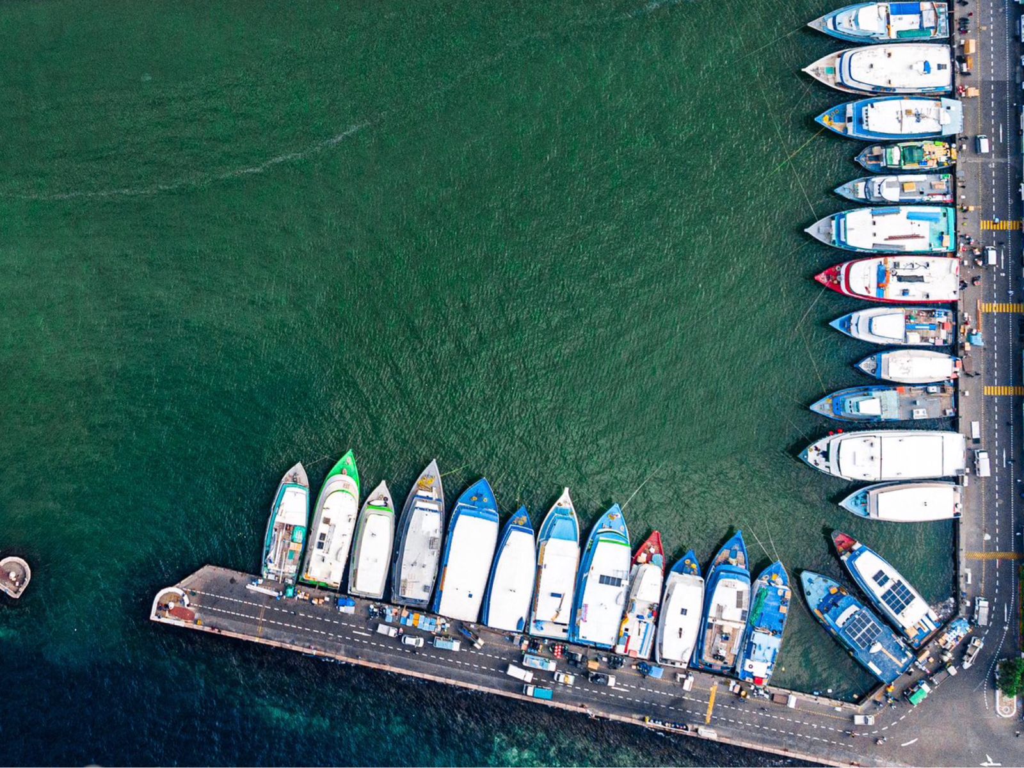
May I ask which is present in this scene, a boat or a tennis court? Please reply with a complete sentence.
I can see a boat in this picture.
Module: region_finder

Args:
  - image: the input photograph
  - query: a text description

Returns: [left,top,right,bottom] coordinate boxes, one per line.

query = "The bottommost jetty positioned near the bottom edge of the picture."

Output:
[149,564,859,768]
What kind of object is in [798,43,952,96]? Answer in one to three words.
boat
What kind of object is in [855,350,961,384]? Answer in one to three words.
boat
